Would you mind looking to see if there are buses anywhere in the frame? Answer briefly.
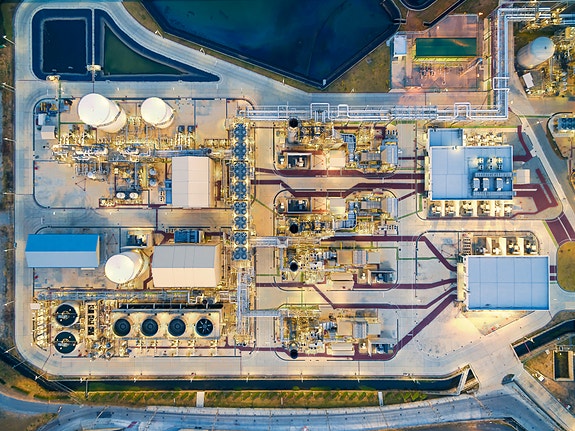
No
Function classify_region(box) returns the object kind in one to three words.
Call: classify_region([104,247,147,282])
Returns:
storage tank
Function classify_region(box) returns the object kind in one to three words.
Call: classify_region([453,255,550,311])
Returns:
building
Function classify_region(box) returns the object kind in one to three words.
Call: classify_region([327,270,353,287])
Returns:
shed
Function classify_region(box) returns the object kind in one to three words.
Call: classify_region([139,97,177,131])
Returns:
storage tank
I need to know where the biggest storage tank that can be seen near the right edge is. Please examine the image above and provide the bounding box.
[514,36,556,72]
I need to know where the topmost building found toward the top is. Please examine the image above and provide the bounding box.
[393,35,407,60]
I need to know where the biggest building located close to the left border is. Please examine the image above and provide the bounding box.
[21,233,103,267]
